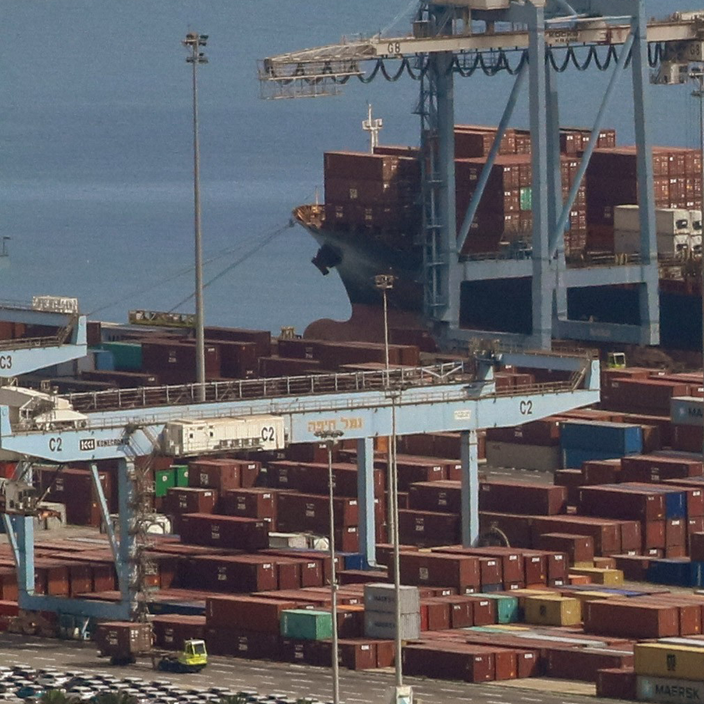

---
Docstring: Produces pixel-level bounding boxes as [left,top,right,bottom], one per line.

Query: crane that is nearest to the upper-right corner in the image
[256,0,704,356]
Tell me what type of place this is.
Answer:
port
